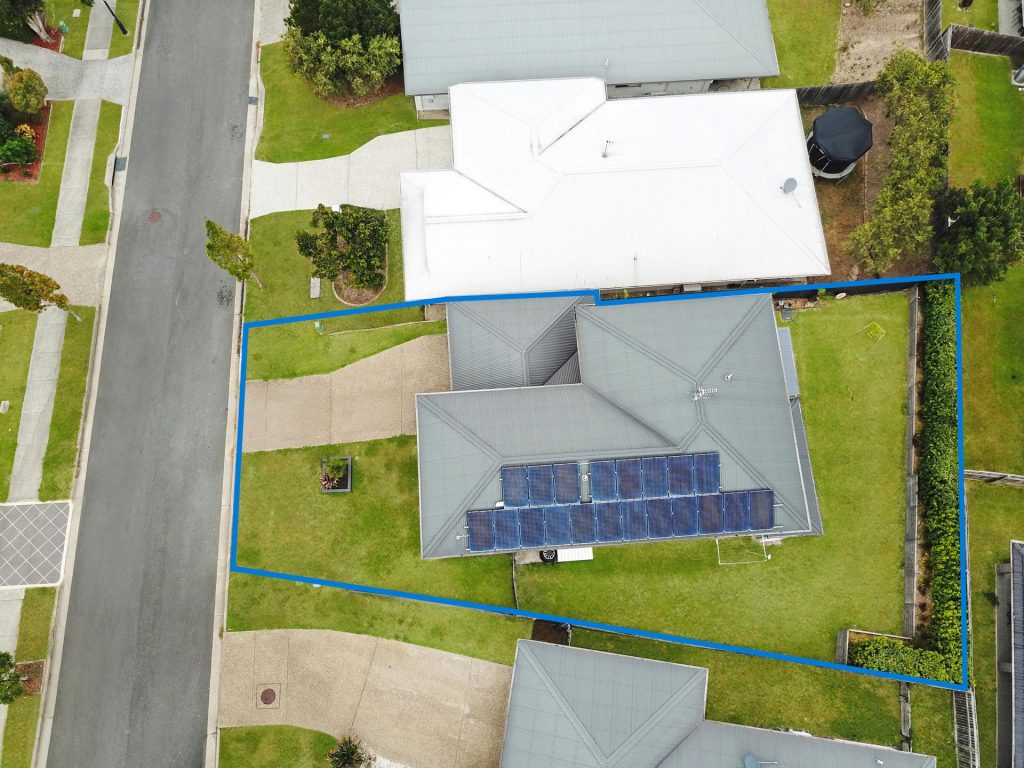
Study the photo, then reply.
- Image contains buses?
No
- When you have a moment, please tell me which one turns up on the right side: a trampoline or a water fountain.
trampoline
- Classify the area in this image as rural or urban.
urban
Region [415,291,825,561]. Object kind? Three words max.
house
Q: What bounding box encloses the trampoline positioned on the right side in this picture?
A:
[808,110,874,188]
